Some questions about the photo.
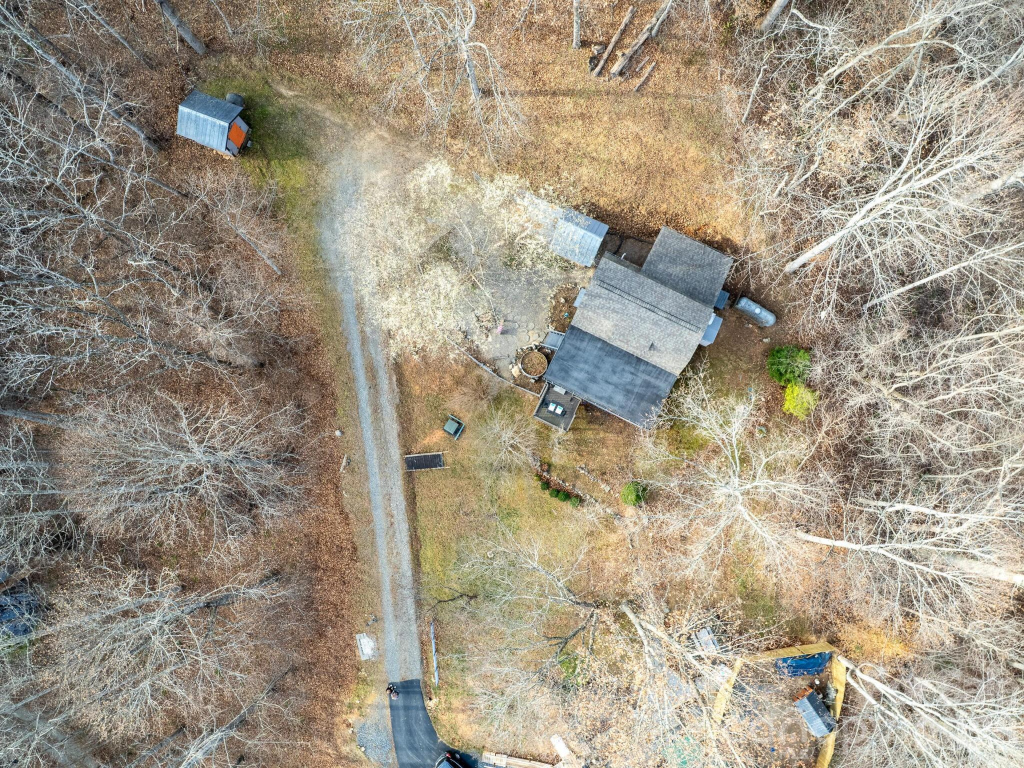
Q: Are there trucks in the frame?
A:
No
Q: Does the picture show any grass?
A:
Yes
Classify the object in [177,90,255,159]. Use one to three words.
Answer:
shed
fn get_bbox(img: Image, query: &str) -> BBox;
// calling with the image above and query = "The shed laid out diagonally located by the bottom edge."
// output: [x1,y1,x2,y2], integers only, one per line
[784,678,837,737]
